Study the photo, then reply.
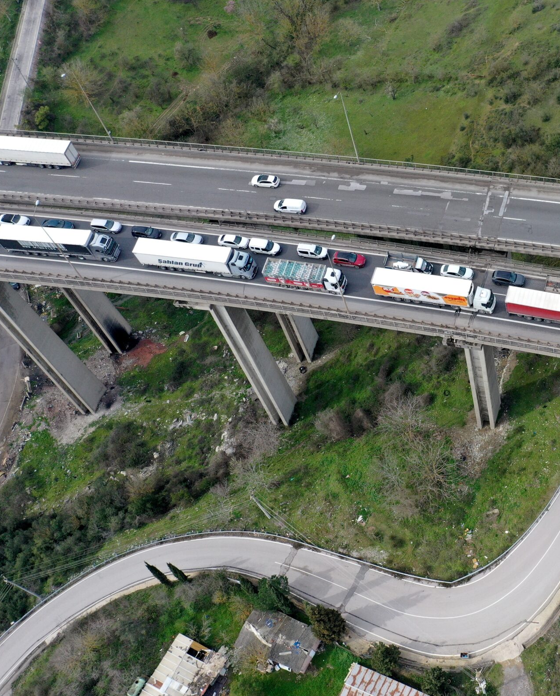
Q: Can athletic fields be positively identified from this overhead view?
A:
No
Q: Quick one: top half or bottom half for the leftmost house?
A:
bottom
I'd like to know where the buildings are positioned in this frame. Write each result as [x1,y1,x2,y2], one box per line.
[230,611,322,677]
[333,662,418,696]
[134,635,216,696]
